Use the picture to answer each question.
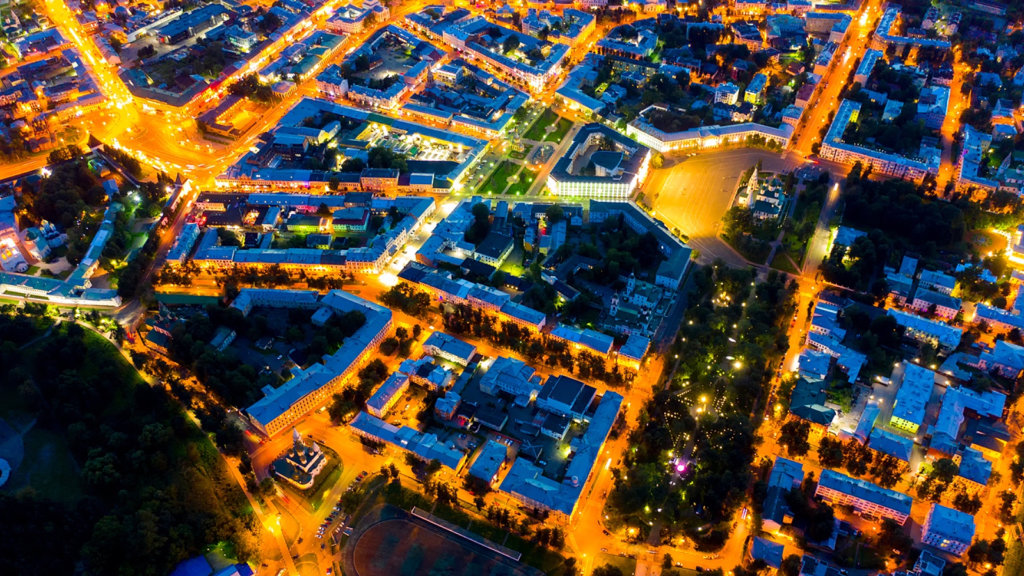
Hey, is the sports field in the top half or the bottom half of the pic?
bottom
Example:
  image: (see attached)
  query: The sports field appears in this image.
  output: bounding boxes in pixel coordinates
[353,519,521,576]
